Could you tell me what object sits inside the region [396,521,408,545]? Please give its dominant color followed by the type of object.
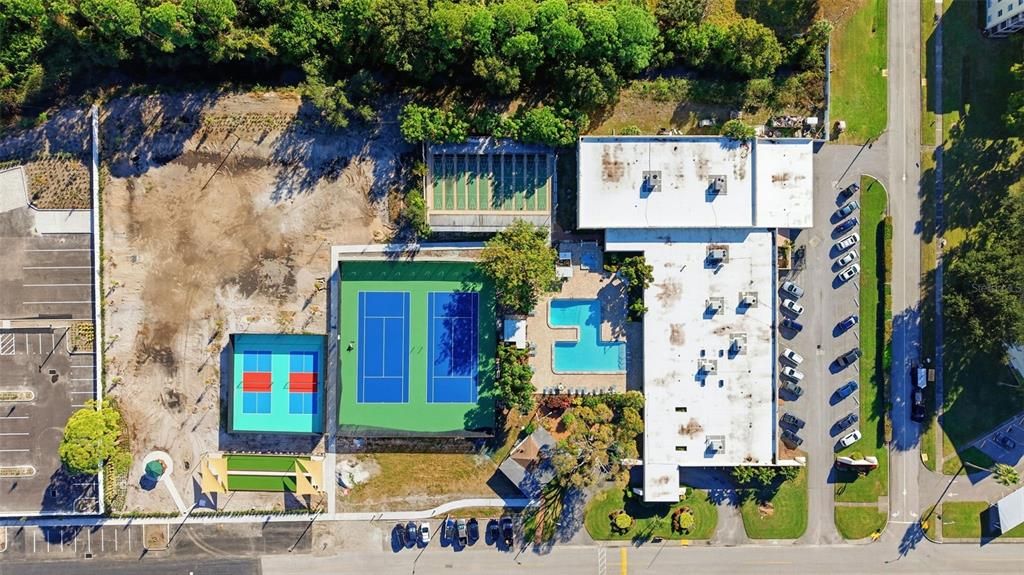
black vehicle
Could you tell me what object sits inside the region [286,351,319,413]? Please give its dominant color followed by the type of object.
blue sports court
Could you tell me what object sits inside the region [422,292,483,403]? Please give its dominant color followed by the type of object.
blue tennis court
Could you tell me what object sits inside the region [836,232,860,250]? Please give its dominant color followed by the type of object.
white car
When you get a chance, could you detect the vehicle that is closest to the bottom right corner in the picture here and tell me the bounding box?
[992,433,1015,450]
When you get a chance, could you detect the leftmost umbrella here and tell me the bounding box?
[148,456,166,475]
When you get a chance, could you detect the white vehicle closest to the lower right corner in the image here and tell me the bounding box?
[840,430,861,447]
